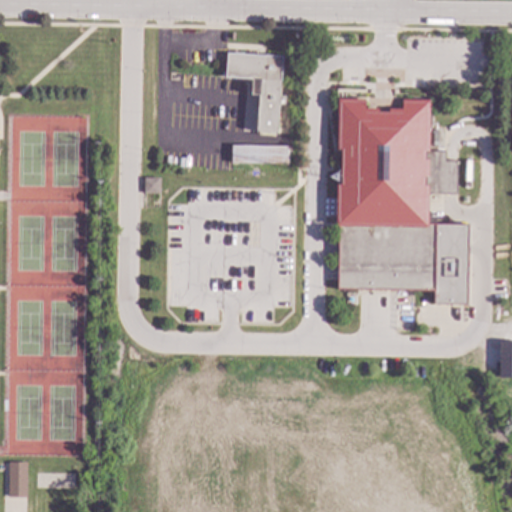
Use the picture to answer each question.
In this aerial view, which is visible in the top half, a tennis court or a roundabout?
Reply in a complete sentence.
The one visible in the top half is a tennis court.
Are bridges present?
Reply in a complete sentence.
No, the photo shows no bridge.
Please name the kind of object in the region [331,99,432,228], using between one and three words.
building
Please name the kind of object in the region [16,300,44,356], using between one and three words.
tennis court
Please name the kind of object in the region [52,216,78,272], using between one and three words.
tennis court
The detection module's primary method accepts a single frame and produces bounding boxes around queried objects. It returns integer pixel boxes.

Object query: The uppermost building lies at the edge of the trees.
[227,52,286,134]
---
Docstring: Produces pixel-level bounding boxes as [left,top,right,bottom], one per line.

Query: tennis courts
[53,132,80,188]
[14,385,44,441]
[52,216,78,272]
[16,300,44,356]
[50,300,78,356]
[48,385,78,441]
[18,216,44,272]
[19,132,46,188]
